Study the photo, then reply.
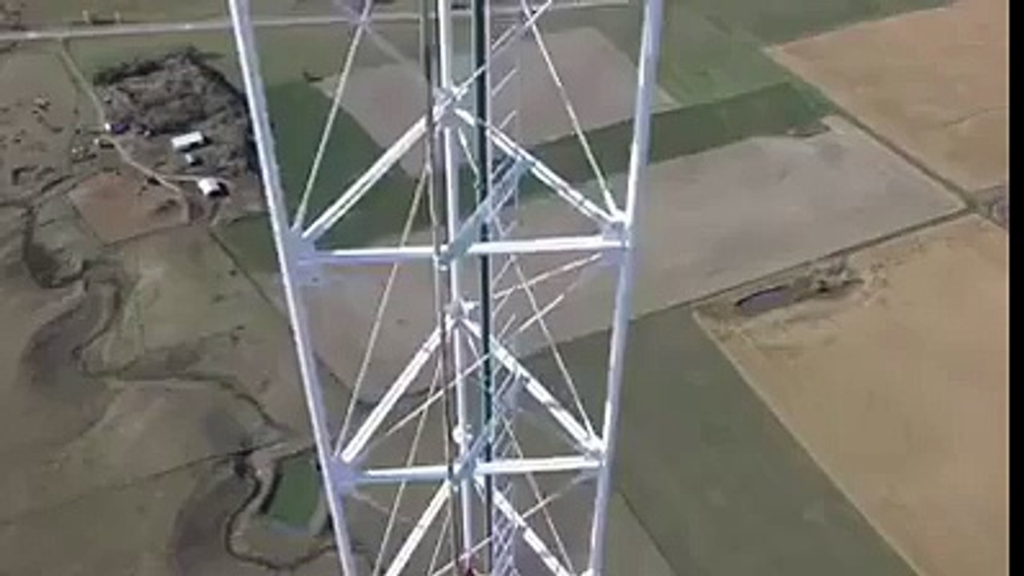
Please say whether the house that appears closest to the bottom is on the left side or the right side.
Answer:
left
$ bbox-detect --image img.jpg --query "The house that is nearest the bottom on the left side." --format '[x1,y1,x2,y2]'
[198,178,222,199]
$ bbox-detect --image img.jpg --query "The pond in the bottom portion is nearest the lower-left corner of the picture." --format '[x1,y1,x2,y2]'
[272,461,320,530]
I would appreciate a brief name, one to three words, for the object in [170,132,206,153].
barn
